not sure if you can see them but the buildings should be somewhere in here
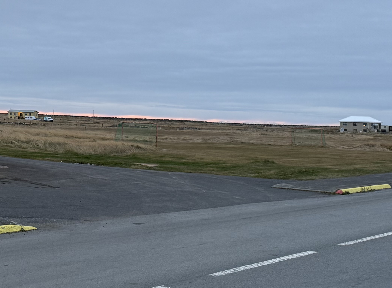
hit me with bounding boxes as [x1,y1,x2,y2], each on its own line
[7,106,39,120]
[337,116,383,132]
